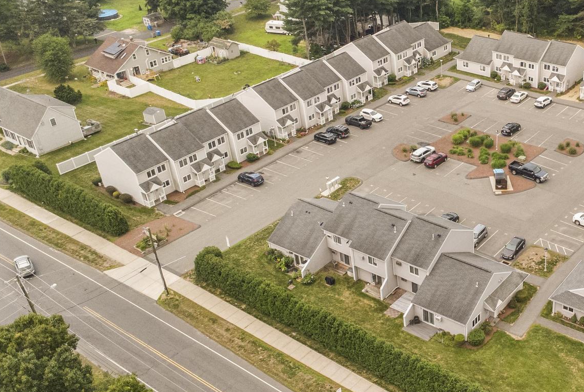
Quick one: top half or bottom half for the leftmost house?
top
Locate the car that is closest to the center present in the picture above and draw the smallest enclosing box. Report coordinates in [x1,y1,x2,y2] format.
[235,169,264,186]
